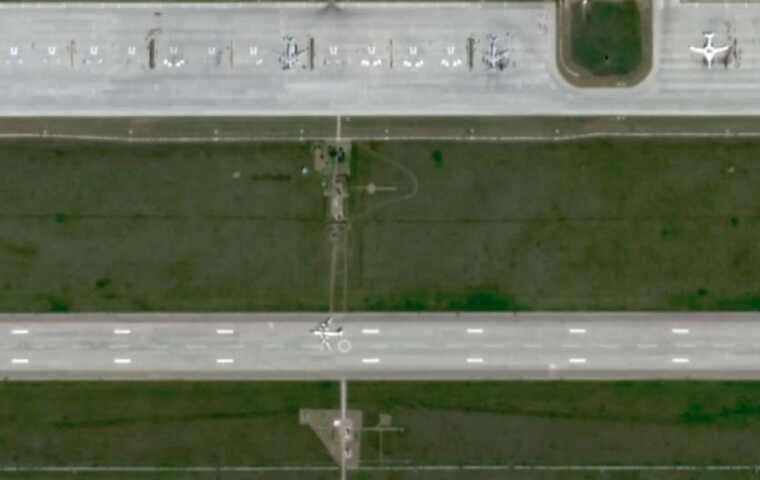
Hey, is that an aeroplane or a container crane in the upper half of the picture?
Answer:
aeroplane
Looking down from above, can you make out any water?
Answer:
No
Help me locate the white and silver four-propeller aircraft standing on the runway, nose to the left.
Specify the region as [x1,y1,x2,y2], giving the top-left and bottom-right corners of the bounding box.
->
[312,317,344,350]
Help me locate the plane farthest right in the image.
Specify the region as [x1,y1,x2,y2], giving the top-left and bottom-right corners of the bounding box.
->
[691,33,728,69]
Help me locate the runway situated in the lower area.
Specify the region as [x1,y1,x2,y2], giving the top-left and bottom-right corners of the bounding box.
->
[0,312,760,381]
